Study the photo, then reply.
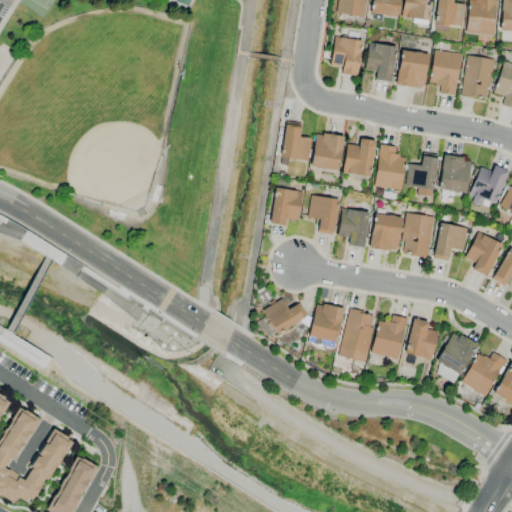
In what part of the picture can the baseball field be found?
top left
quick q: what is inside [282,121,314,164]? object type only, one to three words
house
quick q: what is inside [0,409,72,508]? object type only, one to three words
building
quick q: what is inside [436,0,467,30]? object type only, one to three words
house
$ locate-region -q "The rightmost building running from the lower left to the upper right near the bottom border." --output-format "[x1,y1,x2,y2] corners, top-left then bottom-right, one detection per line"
[40,456,98,512]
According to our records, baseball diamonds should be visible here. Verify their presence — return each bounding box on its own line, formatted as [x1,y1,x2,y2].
[0,7,190,222]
